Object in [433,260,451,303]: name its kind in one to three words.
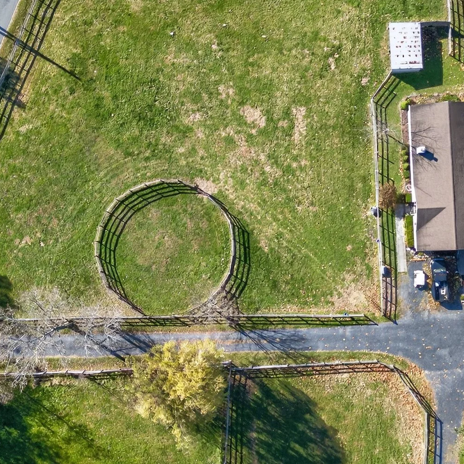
vehicle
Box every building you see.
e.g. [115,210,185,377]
[398,101,464,251]
[388,22,423,72]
